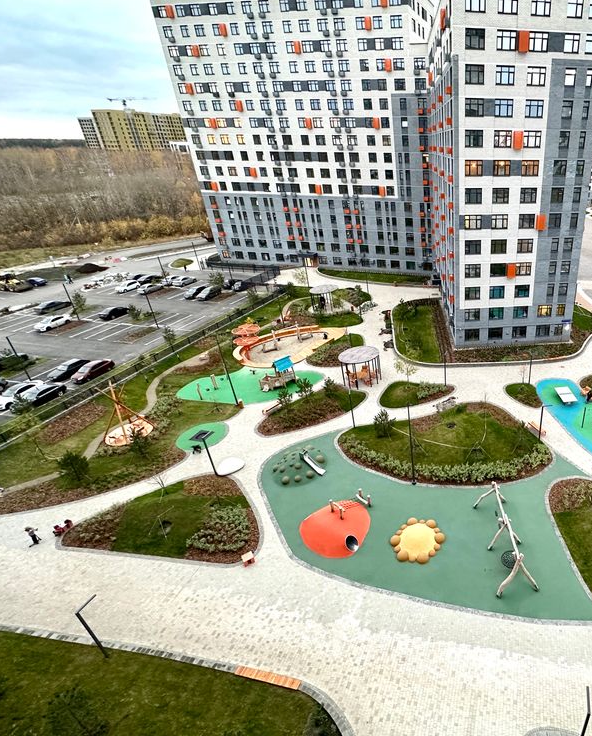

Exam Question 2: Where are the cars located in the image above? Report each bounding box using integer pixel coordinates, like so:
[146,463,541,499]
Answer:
[195,285,221,298]
[230,279,253,290]
[181,285,206,297]
[0,354,14,366]
[33,299,69,313]
[0,383,38,412]
[70,357,118,382]
[112,279,141,292]
[95,304,130,318]
[122,269,148,280]
[157,274,182,285]
[11,380,67,408]
[172,275,197,285]
[135,283,164,294]
[42,355,92,380]
[29,313,70,329]
[138,271,163,283]
[218,275,242,288]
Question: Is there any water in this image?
No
